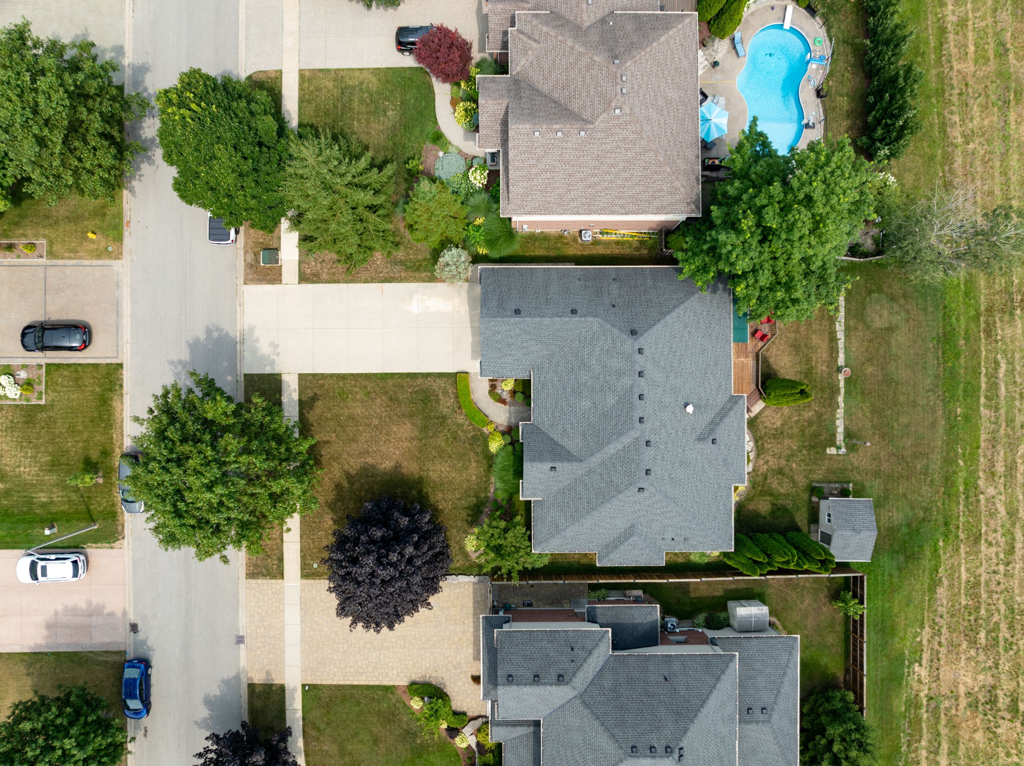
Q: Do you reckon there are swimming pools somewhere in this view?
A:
Yes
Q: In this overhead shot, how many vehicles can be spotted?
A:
6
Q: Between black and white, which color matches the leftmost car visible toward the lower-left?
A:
white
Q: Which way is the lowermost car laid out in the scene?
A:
vertically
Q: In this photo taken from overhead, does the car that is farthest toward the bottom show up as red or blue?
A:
blue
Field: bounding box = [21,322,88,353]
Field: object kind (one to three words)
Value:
car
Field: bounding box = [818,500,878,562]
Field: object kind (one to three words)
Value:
shed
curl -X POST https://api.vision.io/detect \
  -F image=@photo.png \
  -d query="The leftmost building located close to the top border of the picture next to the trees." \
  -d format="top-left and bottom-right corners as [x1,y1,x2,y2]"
[476,0,702,232]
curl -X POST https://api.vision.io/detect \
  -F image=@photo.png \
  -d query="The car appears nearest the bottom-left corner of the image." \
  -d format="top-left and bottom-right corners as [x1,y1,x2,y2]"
[119,657,153,720]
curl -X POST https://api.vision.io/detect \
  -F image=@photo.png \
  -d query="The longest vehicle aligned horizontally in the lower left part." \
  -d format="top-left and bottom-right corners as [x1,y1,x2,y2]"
[18,552,89,586]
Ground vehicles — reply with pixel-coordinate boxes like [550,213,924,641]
[115,452,145,514]
[119,657,153,720]
[204,194,238,244]
[394,16,439,53]
[18,552,89,586]
[21,322,88,353]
